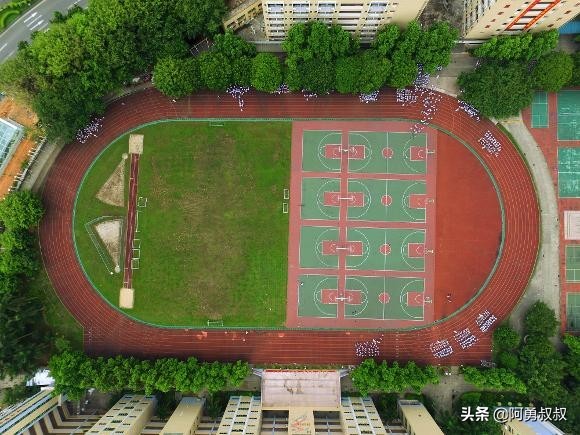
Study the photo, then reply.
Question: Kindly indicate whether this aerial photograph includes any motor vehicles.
No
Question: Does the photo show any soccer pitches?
Yes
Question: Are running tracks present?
Yes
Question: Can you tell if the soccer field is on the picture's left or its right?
left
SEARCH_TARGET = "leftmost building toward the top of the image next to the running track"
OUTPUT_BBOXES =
[0,115,32,186]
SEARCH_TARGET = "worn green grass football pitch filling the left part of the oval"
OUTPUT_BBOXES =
[75,122,290,328]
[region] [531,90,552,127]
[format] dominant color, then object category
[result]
green sports court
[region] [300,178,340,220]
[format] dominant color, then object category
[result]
green basketball court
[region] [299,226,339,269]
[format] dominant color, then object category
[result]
green basketball court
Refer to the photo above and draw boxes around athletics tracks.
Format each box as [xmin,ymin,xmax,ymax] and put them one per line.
[37,84,540,371]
